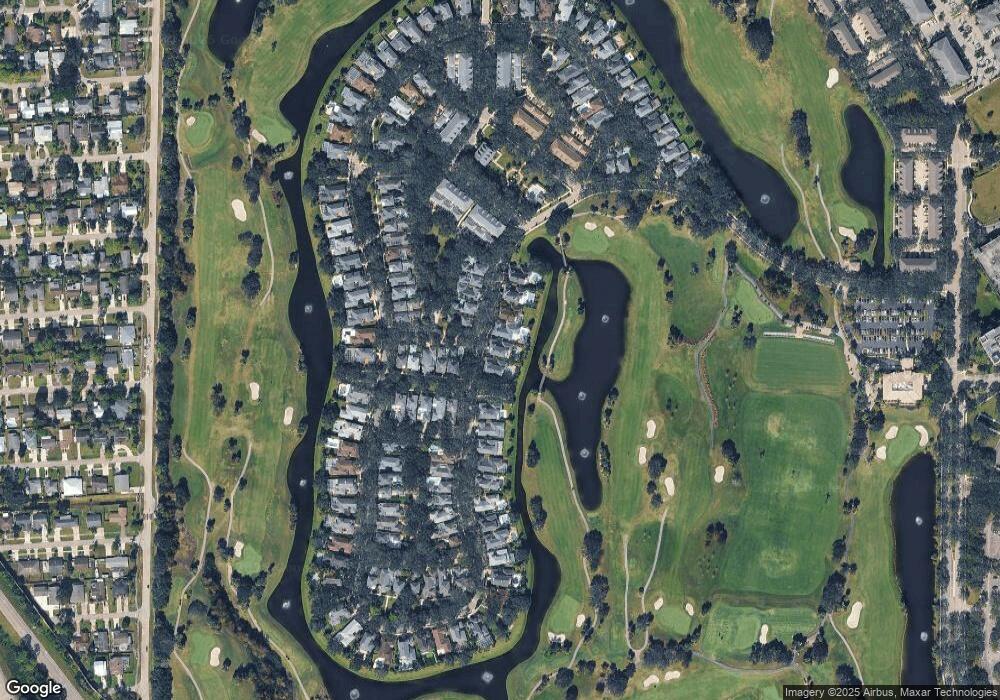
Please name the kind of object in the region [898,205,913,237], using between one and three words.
building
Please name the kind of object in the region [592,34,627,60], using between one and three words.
house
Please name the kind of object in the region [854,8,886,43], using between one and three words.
building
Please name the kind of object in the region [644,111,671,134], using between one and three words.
house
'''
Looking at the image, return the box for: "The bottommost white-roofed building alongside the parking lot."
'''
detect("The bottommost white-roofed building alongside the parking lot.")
[883,358,925,405]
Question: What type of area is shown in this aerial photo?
residential area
